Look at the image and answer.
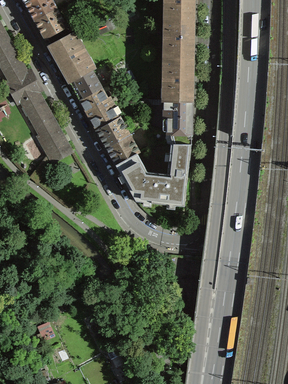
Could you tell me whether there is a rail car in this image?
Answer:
No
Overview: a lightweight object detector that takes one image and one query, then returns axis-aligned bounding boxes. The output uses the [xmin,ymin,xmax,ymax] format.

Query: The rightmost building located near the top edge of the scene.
[162,0,196,102]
